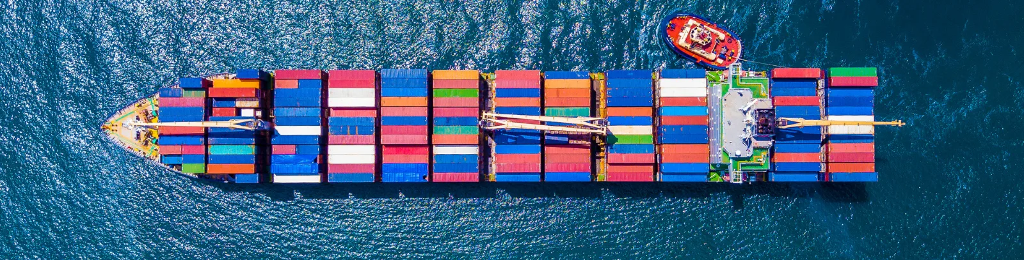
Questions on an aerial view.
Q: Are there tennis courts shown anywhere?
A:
No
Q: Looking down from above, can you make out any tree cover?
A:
No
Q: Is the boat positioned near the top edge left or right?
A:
right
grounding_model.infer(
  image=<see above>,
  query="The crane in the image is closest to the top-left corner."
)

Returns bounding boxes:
[131,118,283,131]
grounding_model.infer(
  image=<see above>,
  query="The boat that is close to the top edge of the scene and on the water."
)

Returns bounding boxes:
[661,12,746,70]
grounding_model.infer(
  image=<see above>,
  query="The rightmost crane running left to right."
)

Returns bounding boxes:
[774,114,907,129]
